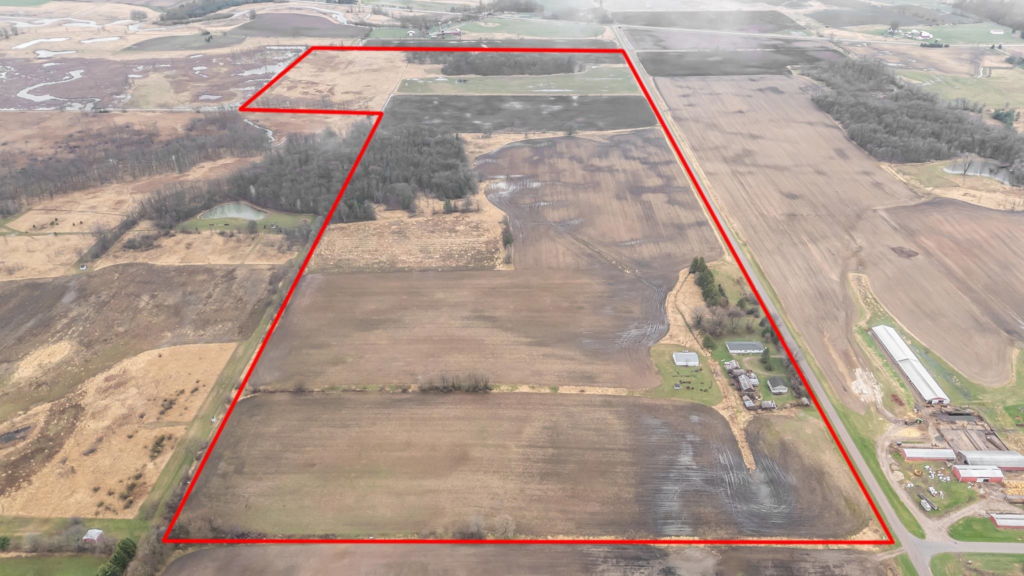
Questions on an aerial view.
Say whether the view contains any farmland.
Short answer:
Yes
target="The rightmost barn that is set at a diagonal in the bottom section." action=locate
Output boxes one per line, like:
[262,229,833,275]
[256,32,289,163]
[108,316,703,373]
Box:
[870,324,950,405]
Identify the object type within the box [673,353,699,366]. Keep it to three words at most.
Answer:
shed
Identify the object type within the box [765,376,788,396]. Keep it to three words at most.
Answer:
house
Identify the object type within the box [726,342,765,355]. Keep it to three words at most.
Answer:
house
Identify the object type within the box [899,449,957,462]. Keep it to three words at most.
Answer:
barn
